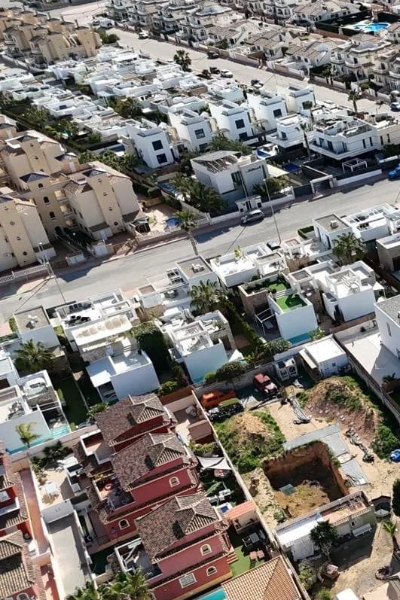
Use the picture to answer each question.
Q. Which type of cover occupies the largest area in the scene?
buildings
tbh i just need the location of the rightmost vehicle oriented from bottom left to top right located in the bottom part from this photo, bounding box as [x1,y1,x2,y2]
[273,358,302,380]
